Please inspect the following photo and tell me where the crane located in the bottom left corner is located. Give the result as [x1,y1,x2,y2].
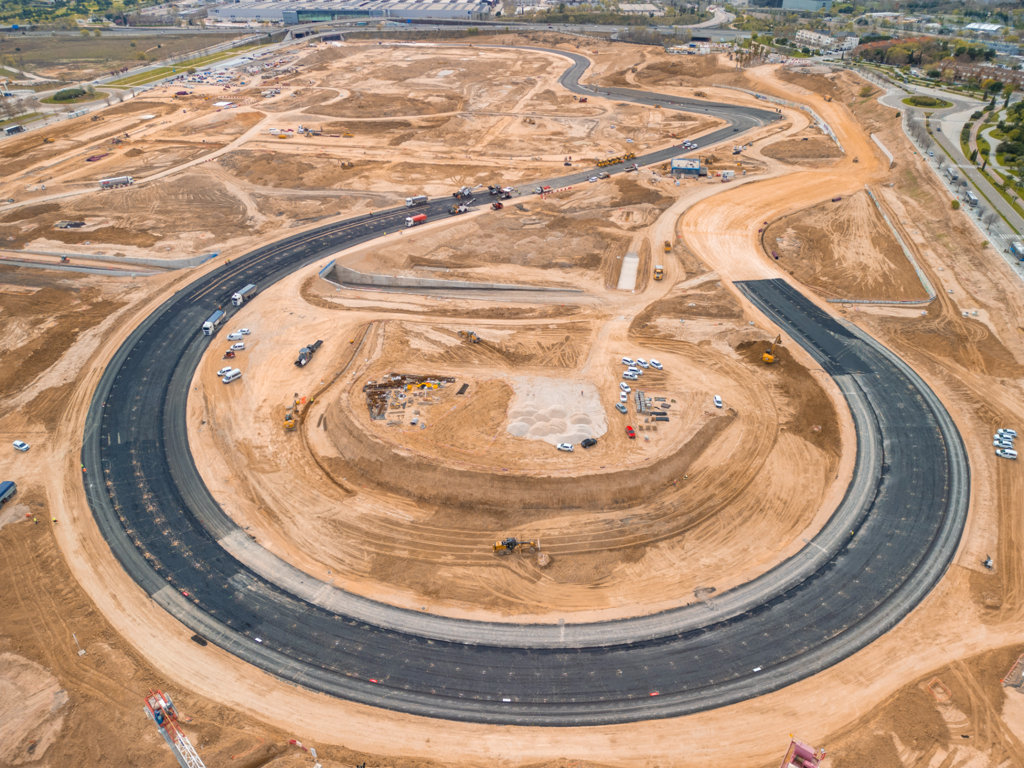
[138,687,198,768]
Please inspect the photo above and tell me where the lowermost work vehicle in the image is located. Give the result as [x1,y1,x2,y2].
[494,534,538,555]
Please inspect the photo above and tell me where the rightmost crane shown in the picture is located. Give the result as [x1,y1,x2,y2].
[777,732,828,768]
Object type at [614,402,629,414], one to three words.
vehicle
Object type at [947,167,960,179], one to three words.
vehicle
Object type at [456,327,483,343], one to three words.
work vehicle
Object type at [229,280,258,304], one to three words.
truck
